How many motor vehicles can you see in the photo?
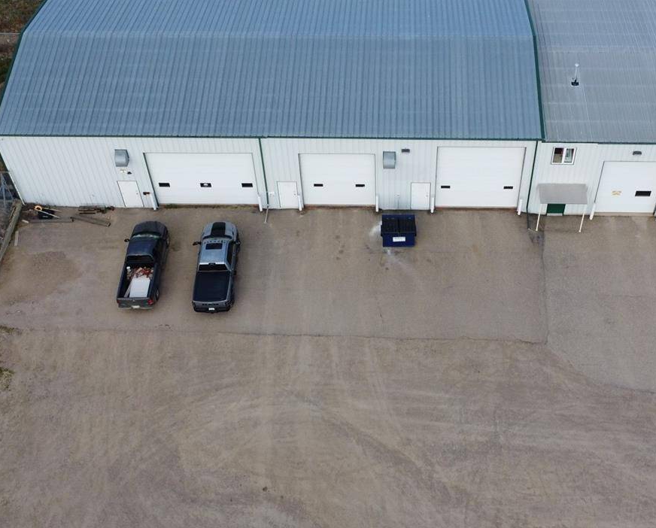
2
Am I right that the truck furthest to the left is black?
Yes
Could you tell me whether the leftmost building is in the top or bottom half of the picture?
top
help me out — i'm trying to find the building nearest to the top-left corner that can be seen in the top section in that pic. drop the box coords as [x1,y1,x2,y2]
[0,0,543,227]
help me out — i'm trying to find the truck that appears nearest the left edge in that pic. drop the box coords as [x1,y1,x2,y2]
[113,219,170,310]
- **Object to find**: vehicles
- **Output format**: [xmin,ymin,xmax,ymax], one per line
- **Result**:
[190,220,240,313]
[113,219,170,310]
